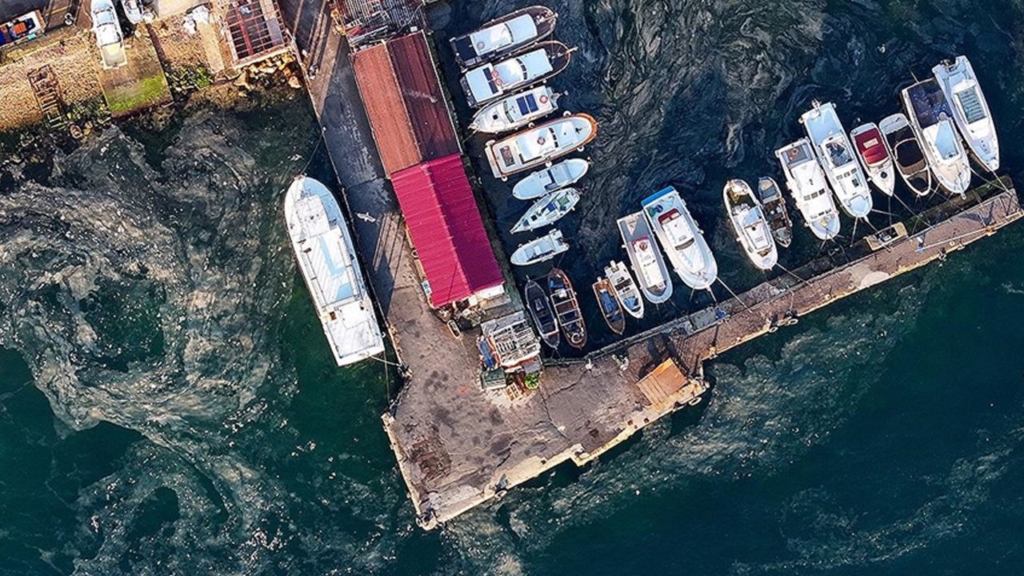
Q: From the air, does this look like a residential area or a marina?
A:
marina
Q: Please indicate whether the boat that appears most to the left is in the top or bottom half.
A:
top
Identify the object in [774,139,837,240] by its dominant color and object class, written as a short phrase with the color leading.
white boat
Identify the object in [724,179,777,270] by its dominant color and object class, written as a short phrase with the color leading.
white boat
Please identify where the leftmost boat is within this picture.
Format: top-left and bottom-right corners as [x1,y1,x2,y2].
[0,10,49,48]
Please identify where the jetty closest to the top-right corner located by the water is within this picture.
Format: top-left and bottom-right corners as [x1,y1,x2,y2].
[298,0,1024,530]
